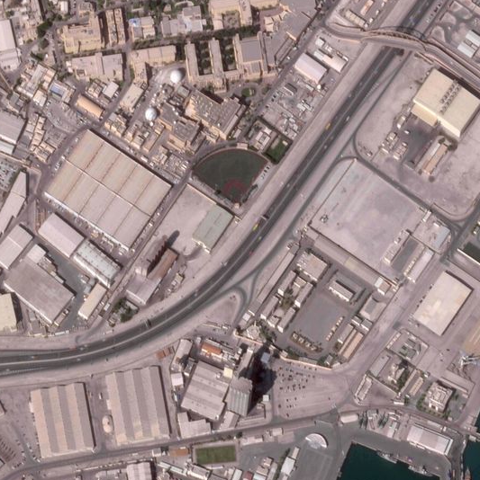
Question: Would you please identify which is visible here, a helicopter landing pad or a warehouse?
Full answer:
Looking from above, you can make out a warehouse.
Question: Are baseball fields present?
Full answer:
Yes, the frame does contain a baseball field.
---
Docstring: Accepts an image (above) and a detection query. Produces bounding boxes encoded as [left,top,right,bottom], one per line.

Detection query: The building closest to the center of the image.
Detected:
[193,206,234,251]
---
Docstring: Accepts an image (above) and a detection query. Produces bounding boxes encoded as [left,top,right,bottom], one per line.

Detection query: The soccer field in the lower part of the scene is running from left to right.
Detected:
[193,443,238,466]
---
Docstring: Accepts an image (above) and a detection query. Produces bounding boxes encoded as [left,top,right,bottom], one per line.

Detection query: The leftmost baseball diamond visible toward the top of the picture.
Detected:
[192,148,269,204]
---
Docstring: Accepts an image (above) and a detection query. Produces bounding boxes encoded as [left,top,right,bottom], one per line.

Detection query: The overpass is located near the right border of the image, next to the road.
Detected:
[315,21,480,90]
